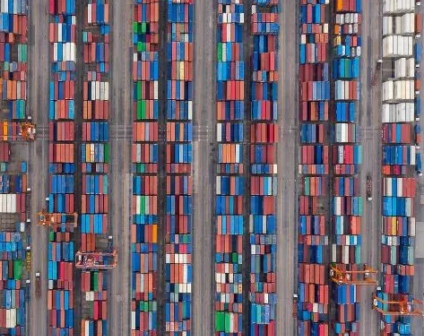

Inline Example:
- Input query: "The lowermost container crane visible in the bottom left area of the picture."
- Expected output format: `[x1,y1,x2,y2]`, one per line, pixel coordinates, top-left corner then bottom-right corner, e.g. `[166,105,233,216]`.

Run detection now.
[75,244,118,270]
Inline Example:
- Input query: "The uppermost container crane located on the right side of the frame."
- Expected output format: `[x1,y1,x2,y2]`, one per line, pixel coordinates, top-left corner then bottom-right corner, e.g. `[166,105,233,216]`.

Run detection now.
[327,260,378,285]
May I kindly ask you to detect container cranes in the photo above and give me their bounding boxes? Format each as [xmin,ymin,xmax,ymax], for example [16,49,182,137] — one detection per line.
[37,207,80,230]
[0,122,38,145]
[75,244,118,270]
[368,289,423,316]
[327,260,378,285]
